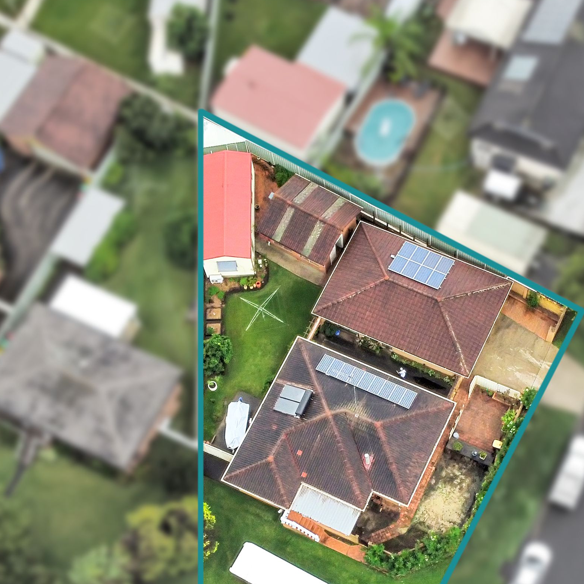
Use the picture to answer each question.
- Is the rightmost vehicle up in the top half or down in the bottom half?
bottom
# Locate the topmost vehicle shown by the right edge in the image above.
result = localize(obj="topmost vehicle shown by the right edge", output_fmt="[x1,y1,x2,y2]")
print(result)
[549,439,584,512]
